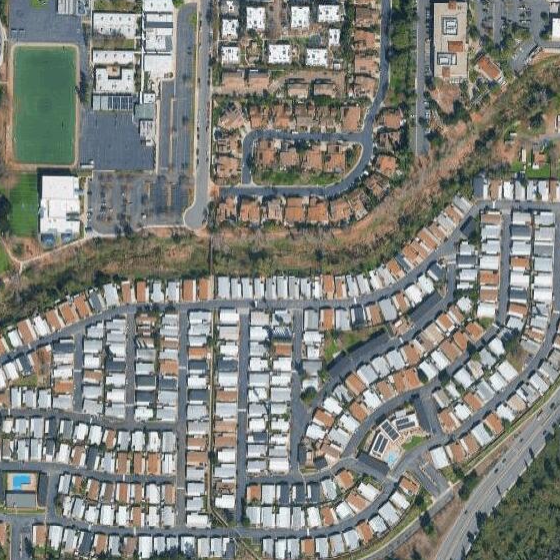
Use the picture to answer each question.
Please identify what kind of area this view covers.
residential area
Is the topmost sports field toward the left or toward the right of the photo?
left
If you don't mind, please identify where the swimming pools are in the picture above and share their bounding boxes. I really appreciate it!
[13,474,31,490]
[387,450,398,463]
